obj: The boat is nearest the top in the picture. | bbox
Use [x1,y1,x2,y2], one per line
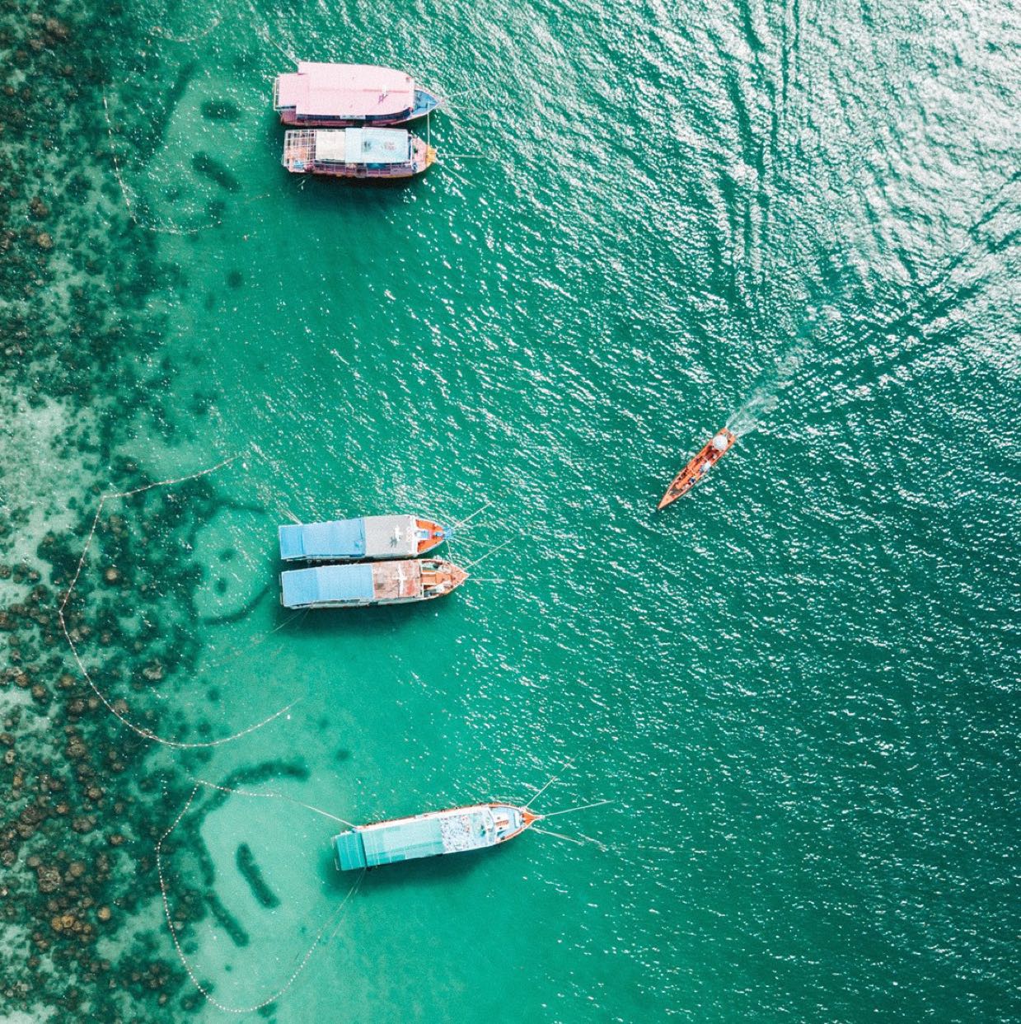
[273,63,441,128]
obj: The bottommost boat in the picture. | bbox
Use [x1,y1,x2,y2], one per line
[335,799,544,871]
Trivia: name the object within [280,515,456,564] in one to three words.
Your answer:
boat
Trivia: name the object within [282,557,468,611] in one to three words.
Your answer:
boat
